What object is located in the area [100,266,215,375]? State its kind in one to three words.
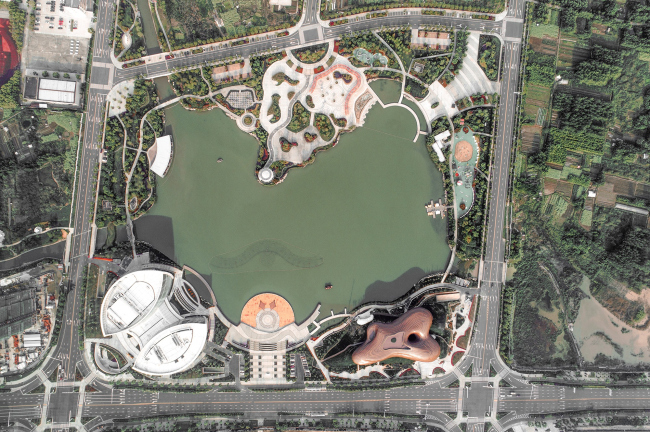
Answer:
building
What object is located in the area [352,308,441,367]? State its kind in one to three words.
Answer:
building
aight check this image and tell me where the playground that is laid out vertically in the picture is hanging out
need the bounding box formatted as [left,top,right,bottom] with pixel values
[453,127,477,216]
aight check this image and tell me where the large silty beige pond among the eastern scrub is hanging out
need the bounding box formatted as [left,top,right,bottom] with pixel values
[574,276,650,362]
